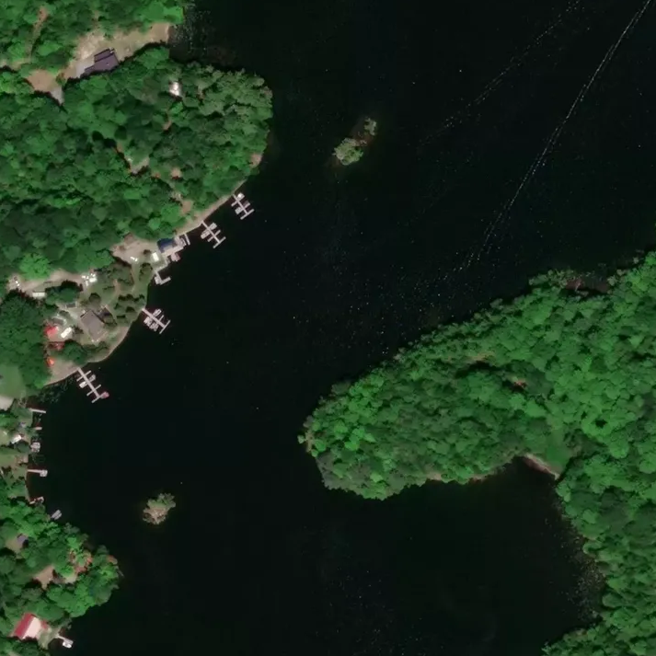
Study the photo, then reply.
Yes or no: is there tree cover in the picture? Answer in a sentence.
Yes, tree cover shows up in the scene.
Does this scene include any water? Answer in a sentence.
Yes, water can be seen from above here.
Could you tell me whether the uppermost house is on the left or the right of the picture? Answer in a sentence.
The uppermost house appears in the left half of the scene.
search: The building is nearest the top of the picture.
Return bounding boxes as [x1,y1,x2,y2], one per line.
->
[84,49,119,74]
